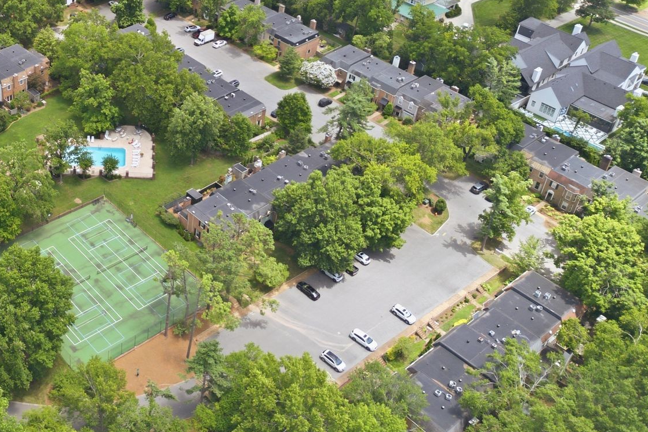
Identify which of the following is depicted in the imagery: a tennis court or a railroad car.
tennis court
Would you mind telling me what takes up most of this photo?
trees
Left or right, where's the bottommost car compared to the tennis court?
to the right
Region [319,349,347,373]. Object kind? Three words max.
car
